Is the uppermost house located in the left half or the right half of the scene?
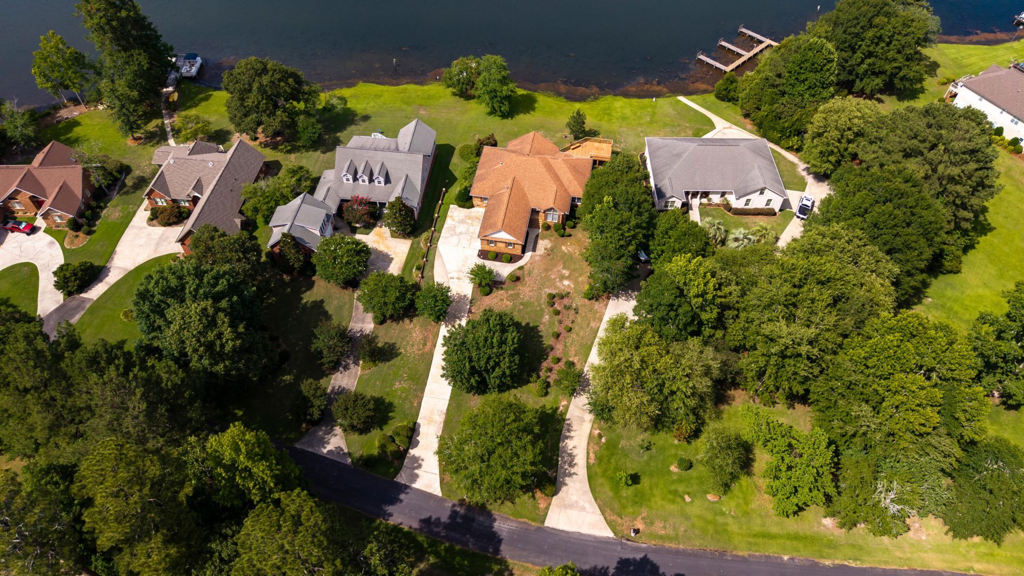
right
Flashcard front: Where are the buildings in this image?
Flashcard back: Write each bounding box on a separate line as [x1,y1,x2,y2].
[928,59,1024,158]
[644,136,789,214]
[141,132,272,257]
[267,116,438,262]
[0,141,111,229]
[468,129,593,255]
